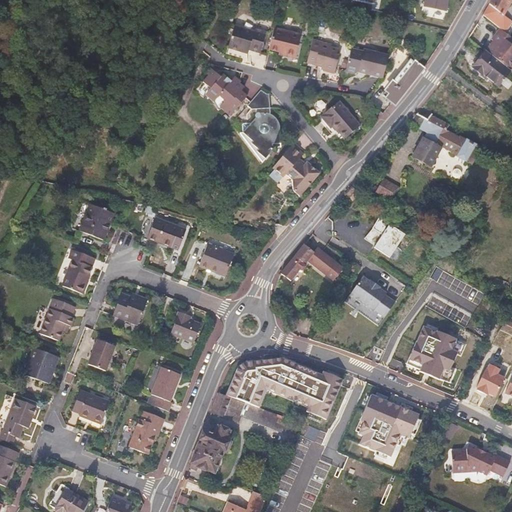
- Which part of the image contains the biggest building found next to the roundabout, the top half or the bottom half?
bottom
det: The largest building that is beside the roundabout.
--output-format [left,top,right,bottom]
[227,358,347,420]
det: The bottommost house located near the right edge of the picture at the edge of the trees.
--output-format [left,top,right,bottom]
[452,442,512,481]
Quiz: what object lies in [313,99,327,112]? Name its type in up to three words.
umbrella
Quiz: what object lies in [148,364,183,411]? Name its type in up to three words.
house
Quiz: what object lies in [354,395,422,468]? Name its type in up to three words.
building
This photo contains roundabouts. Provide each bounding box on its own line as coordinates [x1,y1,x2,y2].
[222,300,274,351]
